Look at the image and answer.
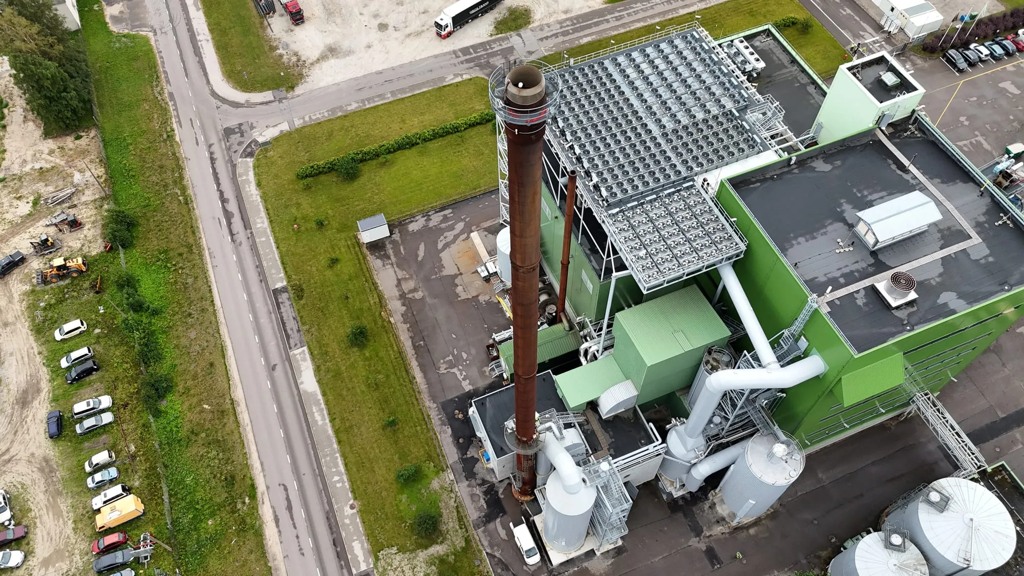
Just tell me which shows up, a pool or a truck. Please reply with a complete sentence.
The one in the frame is a truck.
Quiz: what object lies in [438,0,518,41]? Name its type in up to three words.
truck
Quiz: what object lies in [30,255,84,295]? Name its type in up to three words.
work vehicle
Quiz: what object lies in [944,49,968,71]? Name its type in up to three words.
car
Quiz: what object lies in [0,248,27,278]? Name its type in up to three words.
truck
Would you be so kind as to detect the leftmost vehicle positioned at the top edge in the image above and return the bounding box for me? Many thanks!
[271,0,300,22]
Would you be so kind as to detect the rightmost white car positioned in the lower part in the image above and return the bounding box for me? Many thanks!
[508,519,540,565]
